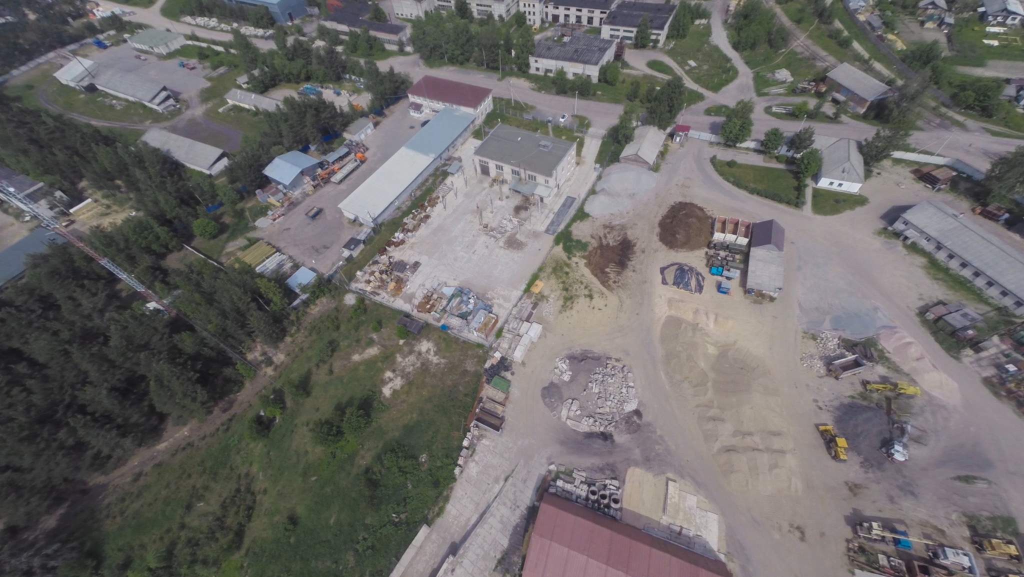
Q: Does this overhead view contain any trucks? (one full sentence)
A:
Yes, this view includes a truck.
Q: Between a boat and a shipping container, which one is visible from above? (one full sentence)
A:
Looking from above, you can make out a shipping container.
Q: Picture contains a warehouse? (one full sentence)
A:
Yes, a warehouse appears in the view.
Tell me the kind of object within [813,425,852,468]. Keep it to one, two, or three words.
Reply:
work vehicle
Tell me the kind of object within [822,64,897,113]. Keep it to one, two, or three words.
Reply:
house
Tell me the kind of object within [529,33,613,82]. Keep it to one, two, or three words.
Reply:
building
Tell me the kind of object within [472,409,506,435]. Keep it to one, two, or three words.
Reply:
shipping container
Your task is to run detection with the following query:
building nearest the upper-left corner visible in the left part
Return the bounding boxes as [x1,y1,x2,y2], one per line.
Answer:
[55,48,128,80]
